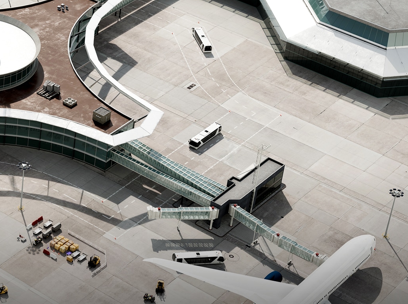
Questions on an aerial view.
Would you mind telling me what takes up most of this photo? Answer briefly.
paved ground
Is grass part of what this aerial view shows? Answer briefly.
No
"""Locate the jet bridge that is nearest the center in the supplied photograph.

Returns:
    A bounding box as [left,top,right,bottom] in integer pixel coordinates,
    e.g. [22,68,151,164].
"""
[139,204,218,233]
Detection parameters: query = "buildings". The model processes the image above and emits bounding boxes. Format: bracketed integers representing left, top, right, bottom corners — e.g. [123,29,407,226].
[0,0,166,173]
[197,161,292,242]
[239,0,408,98]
